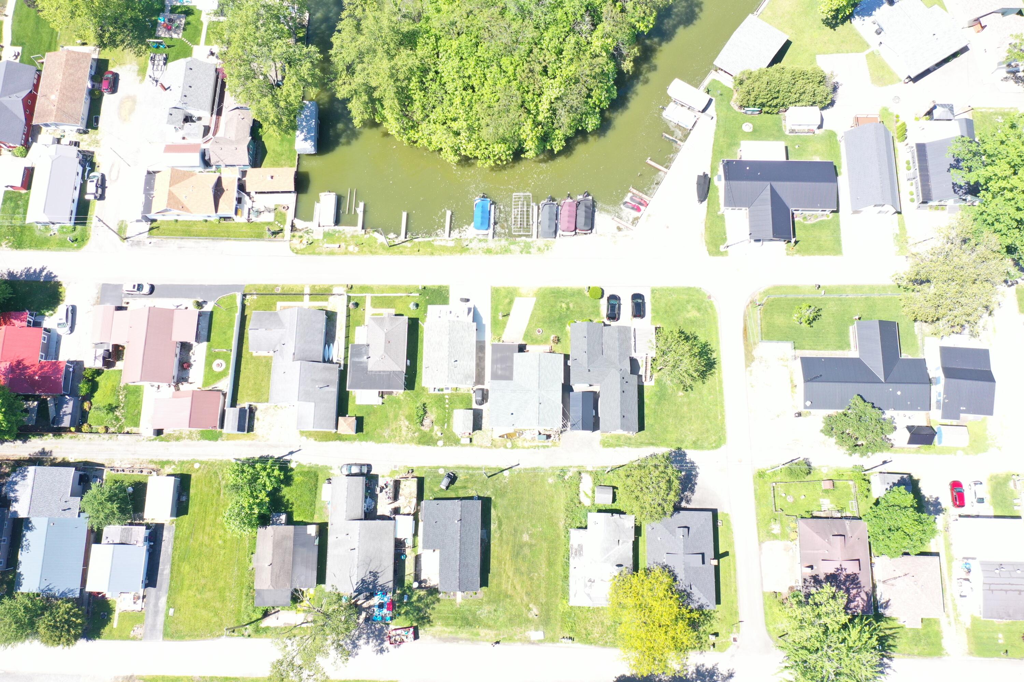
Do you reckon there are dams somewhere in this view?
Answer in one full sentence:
No, no dam is visible in the scene.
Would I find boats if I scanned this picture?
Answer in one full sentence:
Yes, this view includes a boat.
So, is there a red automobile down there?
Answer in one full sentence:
Yes, there's a red automobile here.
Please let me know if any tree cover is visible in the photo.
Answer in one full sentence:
Yes, there is tree cover in the image.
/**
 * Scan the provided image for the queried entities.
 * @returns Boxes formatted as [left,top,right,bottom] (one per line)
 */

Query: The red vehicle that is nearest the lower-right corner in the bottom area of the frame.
[948,479,966,510]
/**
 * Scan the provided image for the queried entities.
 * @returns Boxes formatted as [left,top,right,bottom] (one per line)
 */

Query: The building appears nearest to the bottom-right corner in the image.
[971,561,1024,621]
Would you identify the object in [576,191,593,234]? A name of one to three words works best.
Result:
boat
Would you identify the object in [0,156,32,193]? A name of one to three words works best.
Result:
building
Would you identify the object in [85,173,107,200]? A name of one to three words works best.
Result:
car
